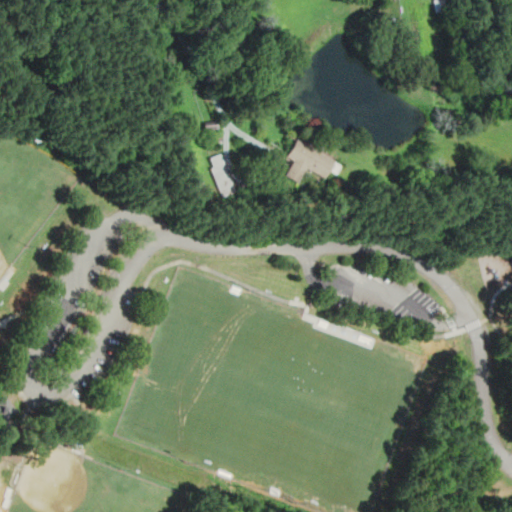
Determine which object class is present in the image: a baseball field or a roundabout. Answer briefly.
baseball field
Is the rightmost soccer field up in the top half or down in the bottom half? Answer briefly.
bottom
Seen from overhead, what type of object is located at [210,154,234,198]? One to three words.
house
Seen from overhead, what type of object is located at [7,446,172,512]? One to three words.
baseball field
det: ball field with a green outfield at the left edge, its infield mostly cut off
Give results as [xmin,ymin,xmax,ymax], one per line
[0,140,76,282]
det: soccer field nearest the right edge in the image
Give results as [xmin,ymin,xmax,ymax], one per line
[117,267,420,512]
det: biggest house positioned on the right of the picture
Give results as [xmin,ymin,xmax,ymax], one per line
[286,140,336,186]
